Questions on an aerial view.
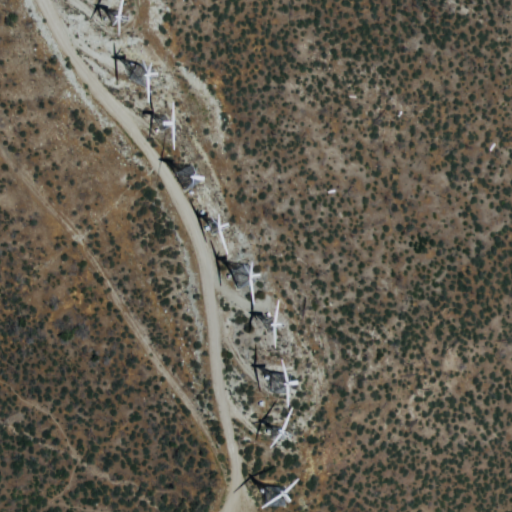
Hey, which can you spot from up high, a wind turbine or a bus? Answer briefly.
wind turbine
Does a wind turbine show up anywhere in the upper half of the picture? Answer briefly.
Yes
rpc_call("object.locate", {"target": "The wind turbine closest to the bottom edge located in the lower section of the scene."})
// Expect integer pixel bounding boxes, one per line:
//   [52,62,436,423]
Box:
[262,480,296,510]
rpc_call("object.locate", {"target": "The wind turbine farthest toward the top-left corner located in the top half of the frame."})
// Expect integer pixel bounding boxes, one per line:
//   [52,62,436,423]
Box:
[106,0,129,34]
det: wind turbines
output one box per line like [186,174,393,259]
[210,212,230,253]
[268,359,299,408]
[229,262,261,304]
[262,480,296,510]
[170,148,204,190]
[126,60,159,102]
[106,0,129,34]
[268,407,292,450]
[262,300,284,349]
[155,102,177,150]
